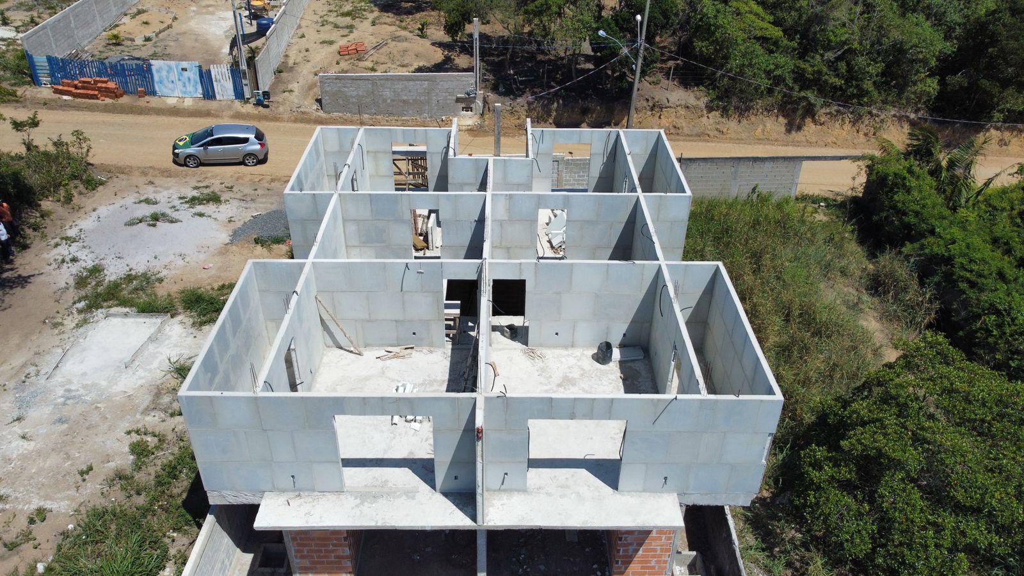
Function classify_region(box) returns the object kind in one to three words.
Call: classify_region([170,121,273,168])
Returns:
car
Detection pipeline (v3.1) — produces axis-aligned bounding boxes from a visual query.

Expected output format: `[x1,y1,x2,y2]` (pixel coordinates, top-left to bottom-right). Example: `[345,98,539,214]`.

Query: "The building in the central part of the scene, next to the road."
[178,109,783,576]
